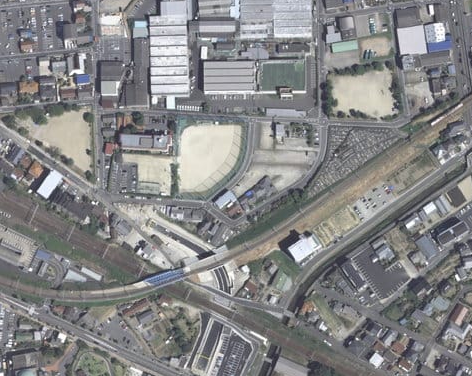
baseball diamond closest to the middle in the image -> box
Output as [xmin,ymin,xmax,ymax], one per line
[175,120,246,200]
